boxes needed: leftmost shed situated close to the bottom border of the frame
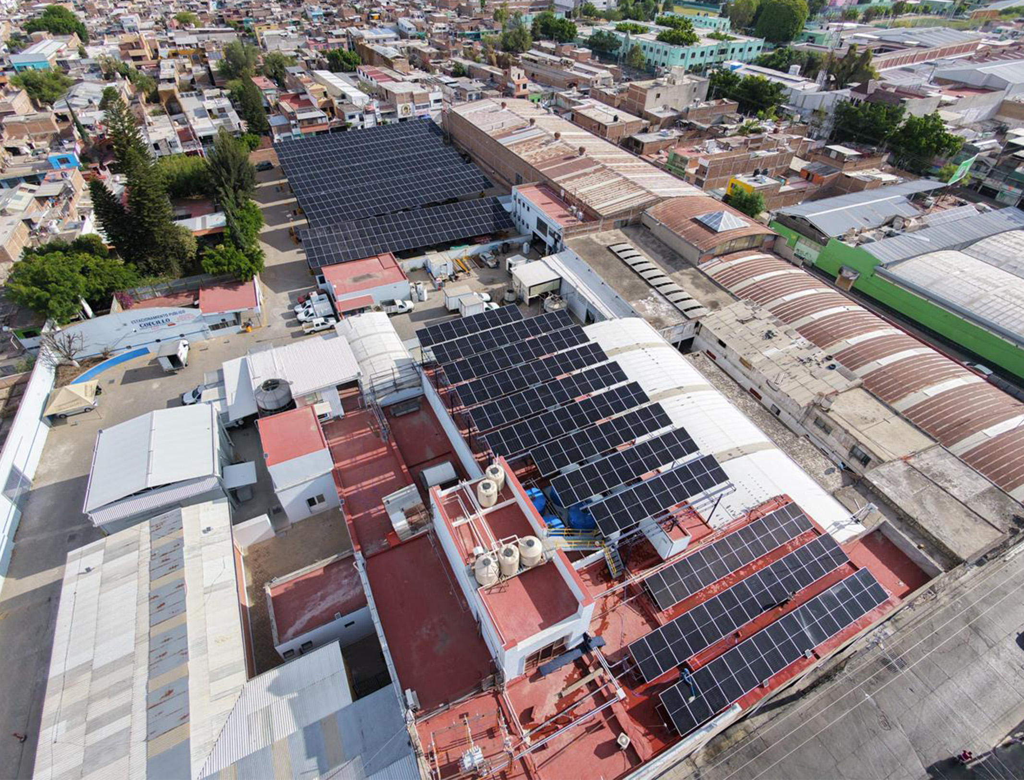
[31,498,259,780]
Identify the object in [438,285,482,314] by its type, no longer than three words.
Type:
truck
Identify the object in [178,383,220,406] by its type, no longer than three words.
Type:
car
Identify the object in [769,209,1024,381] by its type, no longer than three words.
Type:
building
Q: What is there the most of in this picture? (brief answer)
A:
buildings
